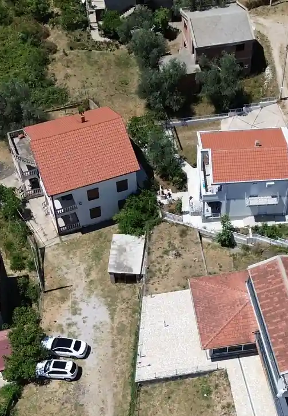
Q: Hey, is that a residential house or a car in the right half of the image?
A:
residential house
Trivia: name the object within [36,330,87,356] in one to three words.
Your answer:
car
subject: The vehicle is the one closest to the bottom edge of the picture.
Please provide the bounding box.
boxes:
[34,355,79,381]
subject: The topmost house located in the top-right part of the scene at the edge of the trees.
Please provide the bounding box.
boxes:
[165,6,257,88]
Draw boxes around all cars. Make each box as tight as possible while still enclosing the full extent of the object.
[36,330,87,356]
[34,355,79,381]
